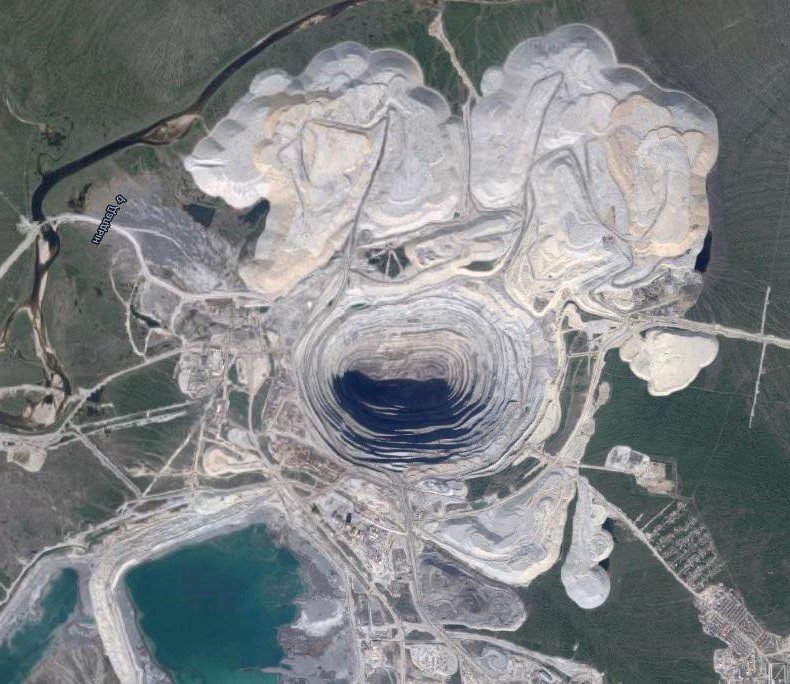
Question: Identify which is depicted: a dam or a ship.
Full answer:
I can see a dam in this picture.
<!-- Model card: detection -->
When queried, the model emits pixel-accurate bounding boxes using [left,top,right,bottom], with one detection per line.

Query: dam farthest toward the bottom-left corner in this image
[0,552,87,628]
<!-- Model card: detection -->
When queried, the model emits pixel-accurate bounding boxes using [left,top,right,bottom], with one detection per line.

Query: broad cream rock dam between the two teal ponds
[89,485,272,684]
